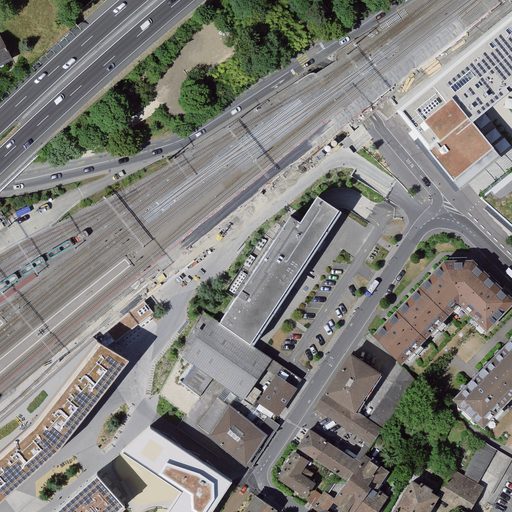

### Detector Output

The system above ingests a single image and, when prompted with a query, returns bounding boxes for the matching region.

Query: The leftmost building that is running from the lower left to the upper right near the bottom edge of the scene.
[0,339,132,498]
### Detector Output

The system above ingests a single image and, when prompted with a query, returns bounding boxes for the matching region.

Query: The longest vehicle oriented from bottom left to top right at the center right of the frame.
[366,278,382,296]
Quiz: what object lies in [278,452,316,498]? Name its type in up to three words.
house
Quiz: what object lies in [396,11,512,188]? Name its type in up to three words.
building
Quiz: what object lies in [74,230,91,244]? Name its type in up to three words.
rail car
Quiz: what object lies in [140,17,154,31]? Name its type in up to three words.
vehicle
